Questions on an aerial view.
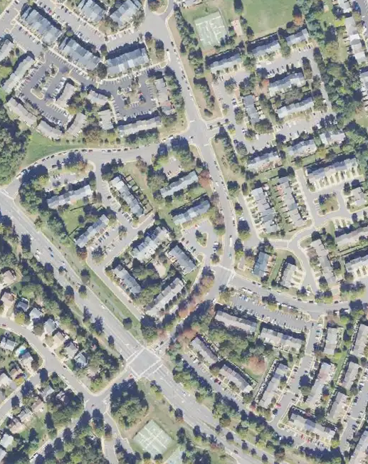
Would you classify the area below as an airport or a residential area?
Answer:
residential area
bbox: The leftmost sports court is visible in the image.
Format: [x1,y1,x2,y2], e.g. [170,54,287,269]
[133,421,176,464]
